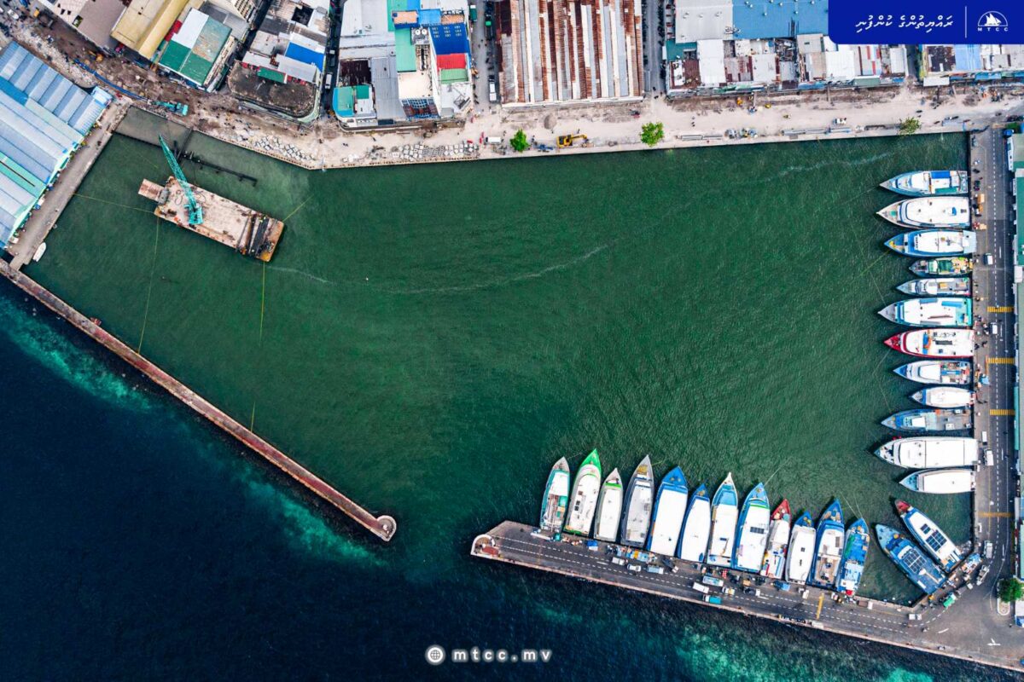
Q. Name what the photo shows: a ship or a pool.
ship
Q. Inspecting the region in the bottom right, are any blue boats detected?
Yes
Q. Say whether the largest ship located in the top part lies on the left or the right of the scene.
left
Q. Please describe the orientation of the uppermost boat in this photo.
from left to right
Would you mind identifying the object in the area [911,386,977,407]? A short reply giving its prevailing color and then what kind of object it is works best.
white boat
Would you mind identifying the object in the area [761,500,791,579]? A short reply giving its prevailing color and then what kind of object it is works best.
white boat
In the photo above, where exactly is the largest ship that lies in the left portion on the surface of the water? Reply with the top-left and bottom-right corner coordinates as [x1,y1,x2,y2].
[80,176,312,350]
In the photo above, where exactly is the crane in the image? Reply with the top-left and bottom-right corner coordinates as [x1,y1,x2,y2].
[157,131,206,230]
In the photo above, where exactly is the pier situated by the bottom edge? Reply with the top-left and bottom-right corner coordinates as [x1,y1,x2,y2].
[471,520,946,649]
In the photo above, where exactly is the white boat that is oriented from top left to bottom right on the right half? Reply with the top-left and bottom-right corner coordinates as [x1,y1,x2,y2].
[896,501,963,573]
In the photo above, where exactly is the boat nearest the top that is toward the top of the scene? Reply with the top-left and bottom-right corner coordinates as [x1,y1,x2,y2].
[857,170,969,199]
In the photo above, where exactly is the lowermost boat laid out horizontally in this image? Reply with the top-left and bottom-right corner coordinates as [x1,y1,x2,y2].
[900,470,977,495]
